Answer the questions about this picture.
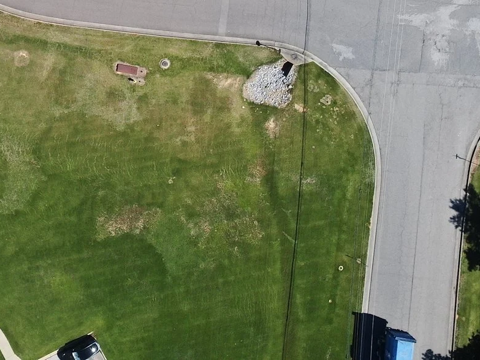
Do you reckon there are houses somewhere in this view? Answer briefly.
No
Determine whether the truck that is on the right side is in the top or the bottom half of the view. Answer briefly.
bottom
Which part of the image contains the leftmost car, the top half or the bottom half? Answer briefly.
bottom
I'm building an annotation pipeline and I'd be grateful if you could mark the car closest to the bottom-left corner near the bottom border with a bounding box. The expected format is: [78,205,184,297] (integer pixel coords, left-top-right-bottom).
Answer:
[61,338,103,360]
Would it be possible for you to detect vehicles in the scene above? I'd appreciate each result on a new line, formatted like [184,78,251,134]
[378,322,414,360]
[61,338,103,360]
